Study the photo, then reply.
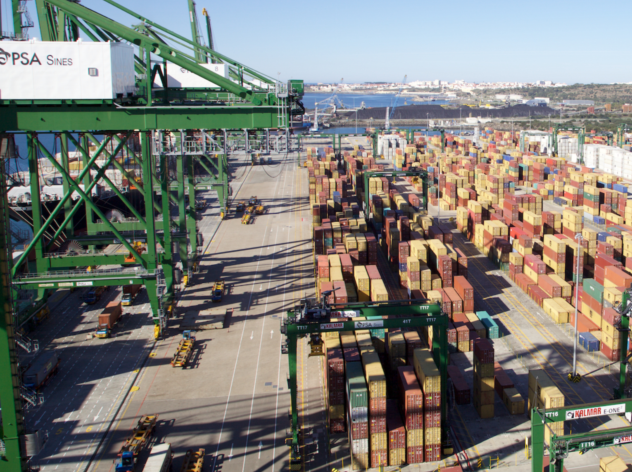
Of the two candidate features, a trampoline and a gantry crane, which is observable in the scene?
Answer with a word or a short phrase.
gantry crane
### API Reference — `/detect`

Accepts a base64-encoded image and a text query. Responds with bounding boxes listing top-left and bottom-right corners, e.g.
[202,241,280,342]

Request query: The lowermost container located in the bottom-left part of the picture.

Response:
[137,433,169,472]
